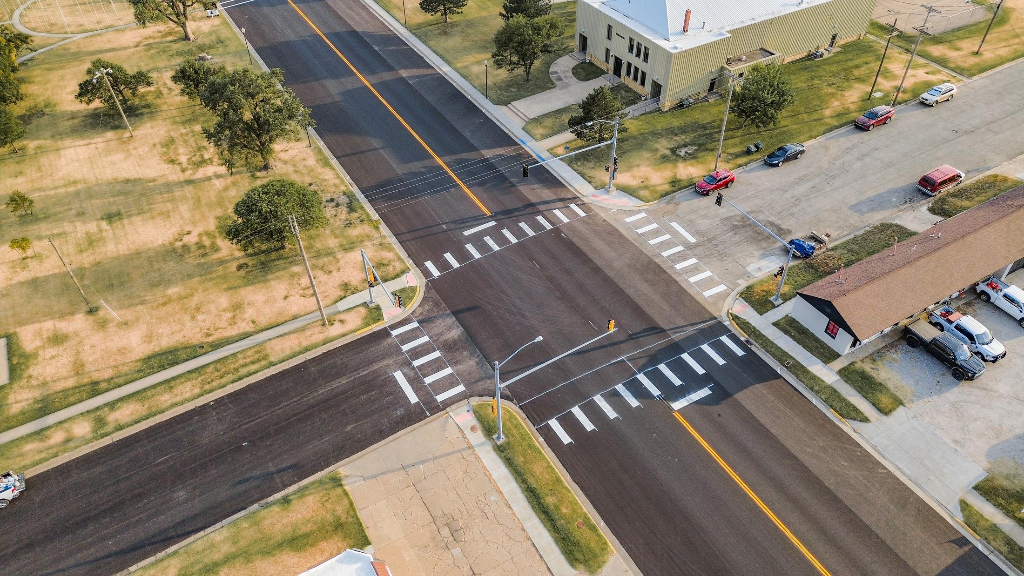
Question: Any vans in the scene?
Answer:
Yes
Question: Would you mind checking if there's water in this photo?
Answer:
No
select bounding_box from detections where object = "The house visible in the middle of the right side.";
[791,173,1024,354]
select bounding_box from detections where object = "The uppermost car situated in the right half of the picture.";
[917,80,956,106]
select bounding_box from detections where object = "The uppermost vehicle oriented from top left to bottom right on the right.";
[973,275,1024,327]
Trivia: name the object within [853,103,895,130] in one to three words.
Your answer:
car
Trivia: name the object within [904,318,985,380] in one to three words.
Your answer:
truck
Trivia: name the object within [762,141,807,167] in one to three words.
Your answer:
car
